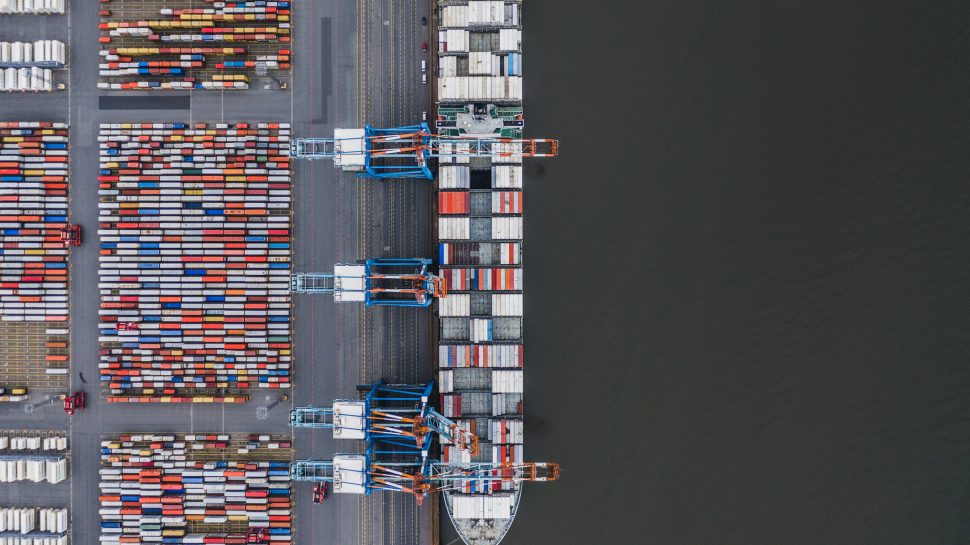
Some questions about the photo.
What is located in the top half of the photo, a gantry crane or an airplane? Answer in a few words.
gantry crane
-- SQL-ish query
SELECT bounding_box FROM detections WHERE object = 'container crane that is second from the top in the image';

[289,257,449,306]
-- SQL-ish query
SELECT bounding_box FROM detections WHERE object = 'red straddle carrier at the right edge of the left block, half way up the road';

[58,225,81,245]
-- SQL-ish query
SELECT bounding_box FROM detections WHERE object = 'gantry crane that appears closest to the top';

[289,122,562,187]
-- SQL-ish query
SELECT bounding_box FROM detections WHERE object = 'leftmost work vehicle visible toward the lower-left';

[62,393,84,416]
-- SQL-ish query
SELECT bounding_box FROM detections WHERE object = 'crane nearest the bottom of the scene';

[289,427,562,499]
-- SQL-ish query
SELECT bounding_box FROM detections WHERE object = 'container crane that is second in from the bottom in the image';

[289,375,482,463]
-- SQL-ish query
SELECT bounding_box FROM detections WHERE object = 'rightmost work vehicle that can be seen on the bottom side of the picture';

[310,483,328,508]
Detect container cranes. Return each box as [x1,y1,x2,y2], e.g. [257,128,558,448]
[289,375,482,463]
[289,257,449,306]
[289,427,562,499]
[289,122,562,187]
